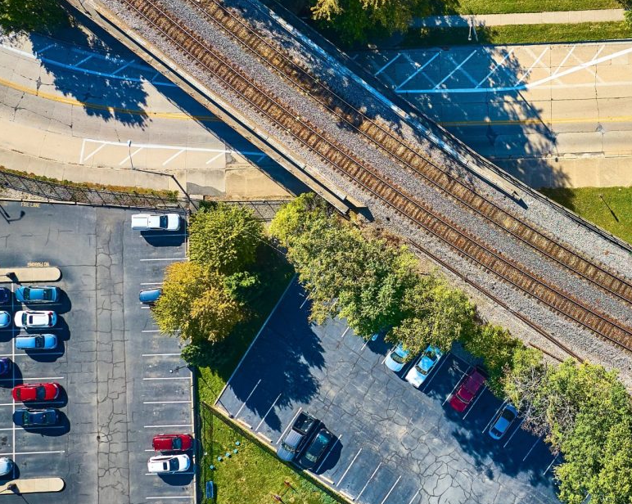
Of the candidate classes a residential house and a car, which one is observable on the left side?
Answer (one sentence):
You can see a car on the left side.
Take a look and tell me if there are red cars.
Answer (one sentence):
Yes, a red car can be made out from above.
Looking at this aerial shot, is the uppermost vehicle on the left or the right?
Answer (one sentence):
The uppermost vehicle is on the left side of the image.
